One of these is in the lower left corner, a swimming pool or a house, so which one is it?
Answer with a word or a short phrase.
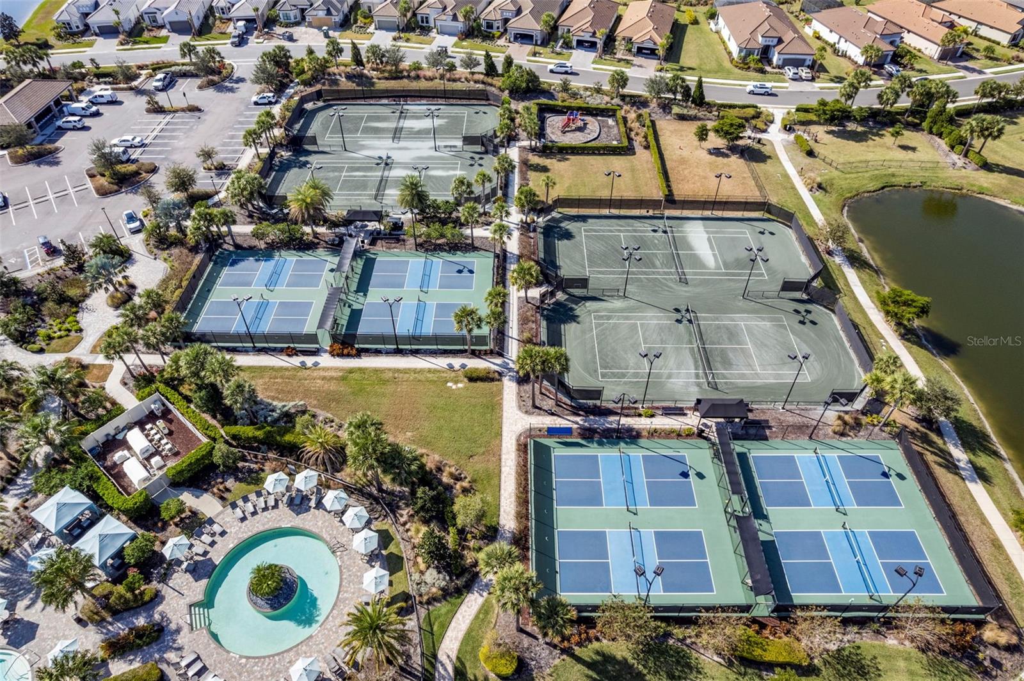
swimming pool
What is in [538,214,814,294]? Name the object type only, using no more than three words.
tennis court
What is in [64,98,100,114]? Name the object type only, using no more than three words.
vehicle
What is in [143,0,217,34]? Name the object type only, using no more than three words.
house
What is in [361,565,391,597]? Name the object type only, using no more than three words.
umbrella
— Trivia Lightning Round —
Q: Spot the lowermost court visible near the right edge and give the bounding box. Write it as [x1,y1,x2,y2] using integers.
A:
[733,518,983,618]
